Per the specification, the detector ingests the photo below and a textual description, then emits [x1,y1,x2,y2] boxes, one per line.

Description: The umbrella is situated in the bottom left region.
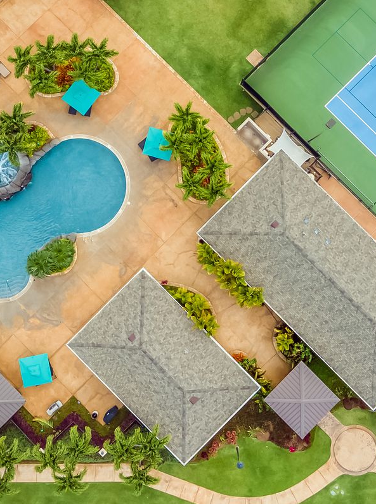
[18,352,54,389]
